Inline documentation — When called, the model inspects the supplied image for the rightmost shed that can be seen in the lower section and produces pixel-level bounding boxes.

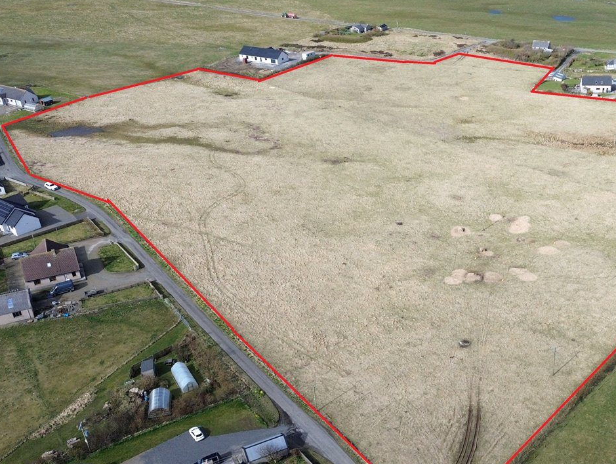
[243,434,288,464]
